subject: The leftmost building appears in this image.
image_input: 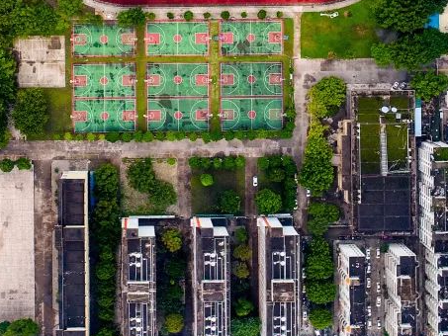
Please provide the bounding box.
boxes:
[54,164,94,336]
